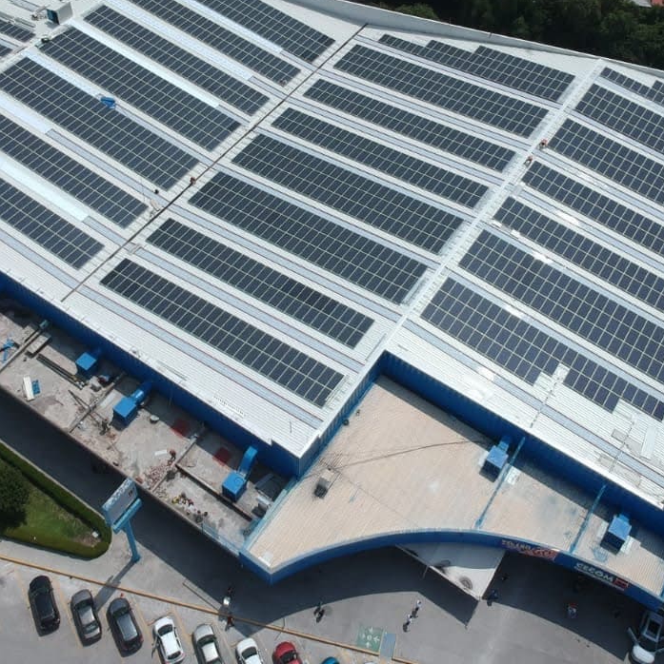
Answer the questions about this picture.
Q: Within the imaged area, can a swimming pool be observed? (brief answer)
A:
No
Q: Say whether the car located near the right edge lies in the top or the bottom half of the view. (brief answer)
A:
bottom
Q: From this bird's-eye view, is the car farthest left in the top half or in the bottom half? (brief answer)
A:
bottom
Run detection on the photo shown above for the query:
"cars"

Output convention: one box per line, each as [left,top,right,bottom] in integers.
[268,639,300,664]
[626,607,664,664]
[68,589,107,647]
[150,616,188,664]
[106,599,148,659]
[25,576,63,637]
[230,633,265,664]
[187,620,230,664]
